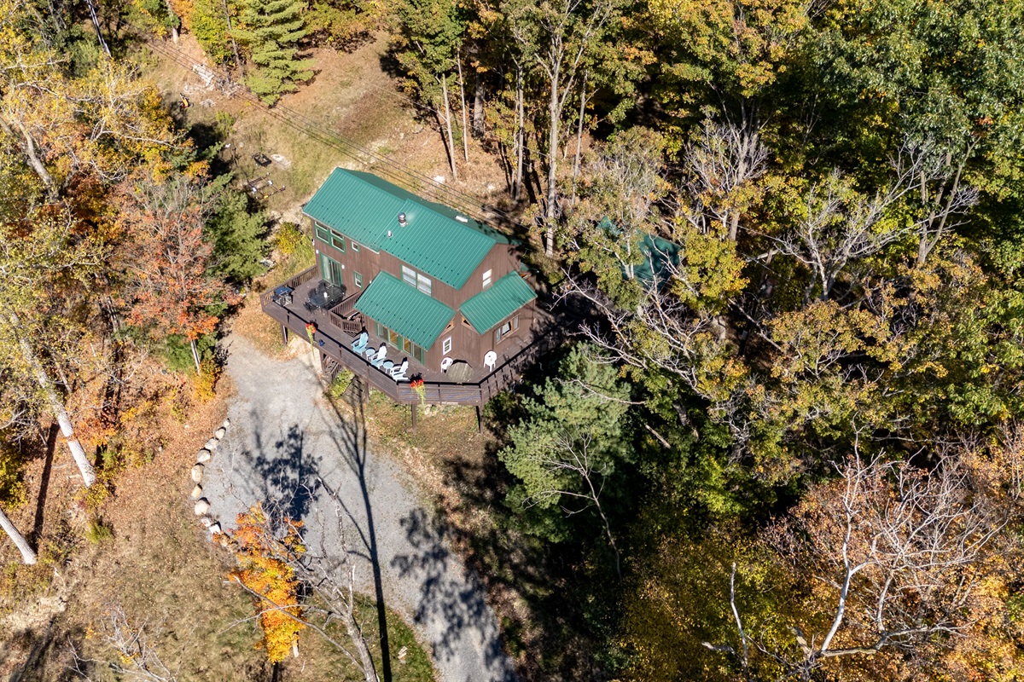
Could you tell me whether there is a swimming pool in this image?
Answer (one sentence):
No, there isn't any swimming pool down there.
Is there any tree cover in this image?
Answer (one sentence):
Yes, tree cover can be seen from above here.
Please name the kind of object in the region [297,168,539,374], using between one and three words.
house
